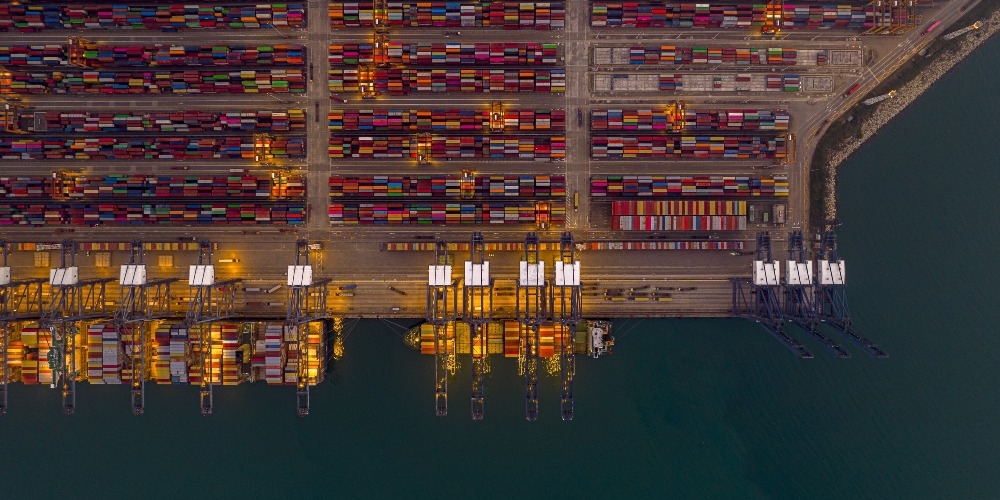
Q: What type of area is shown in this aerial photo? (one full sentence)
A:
This image shows a port.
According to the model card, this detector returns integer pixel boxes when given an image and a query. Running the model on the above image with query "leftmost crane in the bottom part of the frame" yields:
[0,242,59,413]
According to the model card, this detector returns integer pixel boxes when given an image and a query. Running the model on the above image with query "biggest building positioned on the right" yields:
[771,204,787,226]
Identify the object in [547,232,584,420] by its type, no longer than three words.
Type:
container crane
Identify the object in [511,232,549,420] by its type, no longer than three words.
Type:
container crane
